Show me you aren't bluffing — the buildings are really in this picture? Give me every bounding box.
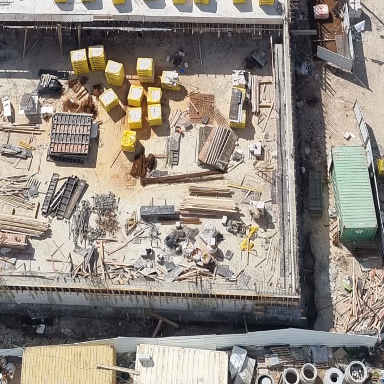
[134,343,229,384]
[22,344,121,384]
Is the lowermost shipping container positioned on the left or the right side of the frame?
right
